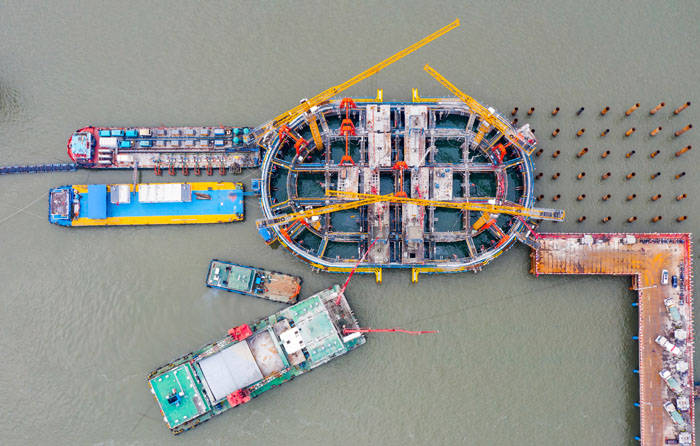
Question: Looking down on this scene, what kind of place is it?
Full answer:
This image shows a port.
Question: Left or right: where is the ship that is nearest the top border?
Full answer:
The ship that is nearest the top border appears in the left half of the scene.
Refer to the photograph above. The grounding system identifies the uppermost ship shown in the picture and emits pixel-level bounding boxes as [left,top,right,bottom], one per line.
[66,120,262,175]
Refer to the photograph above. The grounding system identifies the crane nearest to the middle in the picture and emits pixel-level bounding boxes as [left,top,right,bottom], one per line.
[256,191,396,237]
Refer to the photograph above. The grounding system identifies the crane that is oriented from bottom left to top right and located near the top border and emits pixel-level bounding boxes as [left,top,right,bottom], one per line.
[243,18,461,159]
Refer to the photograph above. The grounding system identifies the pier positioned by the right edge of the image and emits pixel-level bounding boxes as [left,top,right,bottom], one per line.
[526,233,700,446]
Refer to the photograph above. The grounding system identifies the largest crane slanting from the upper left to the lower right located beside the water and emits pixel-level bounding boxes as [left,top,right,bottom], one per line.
[423,64,534,159]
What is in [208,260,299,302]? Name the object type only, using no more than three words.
boat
